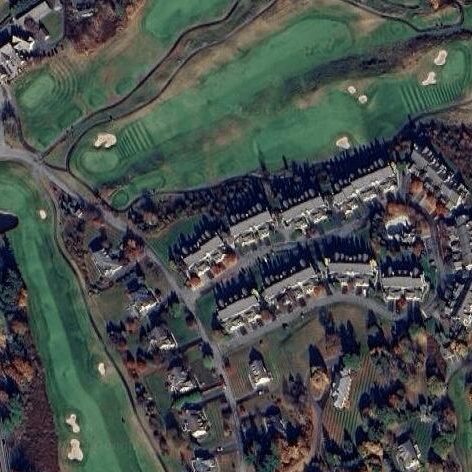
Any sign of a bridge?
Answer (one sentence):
No, there appears to be no bridge in this shot.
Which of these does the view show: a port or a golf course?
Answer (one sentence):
The picture captures a golf course.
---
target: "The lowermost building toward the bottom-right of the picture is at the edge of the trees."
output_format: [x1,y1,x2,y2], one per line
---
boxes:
[396,441,421,472]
